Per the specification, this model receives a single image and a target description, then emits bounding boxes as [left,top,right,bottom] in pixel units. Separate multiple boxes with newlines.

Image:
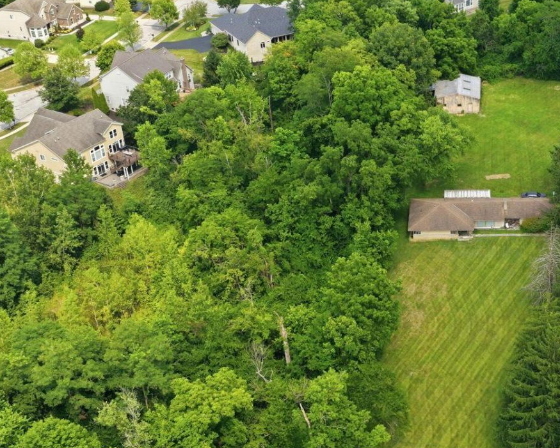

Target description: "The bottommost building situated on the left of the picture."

[0,107,141,189]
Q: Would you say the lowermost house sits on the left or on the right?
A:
right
